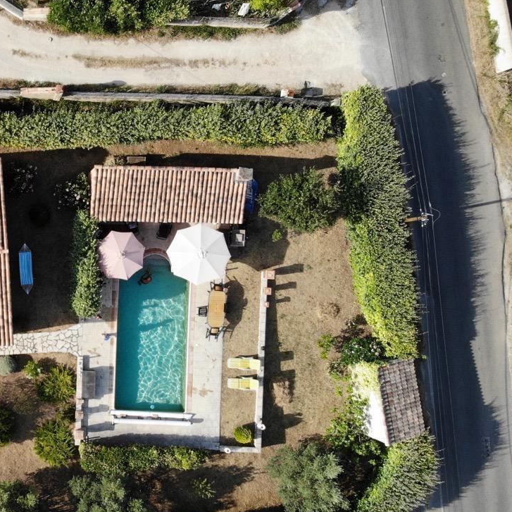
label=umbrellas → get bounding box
[97,233,143,280]
[166,226,226,284]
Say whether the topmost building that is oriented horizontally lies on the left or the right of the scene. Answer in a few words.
left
